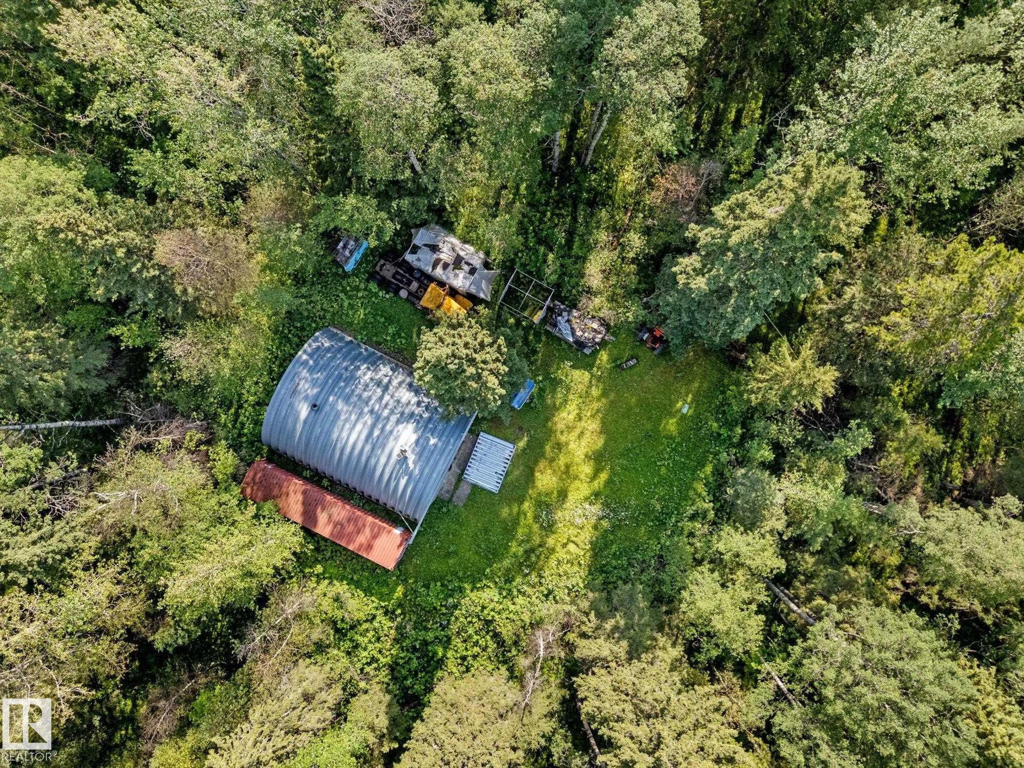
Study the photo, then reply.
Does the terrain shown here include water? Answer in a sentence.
No, water can't be seen anywhere here.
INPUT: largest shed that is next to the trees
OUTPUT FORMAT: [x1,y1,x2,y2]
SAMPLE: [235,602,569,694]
[260,324,475,526]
